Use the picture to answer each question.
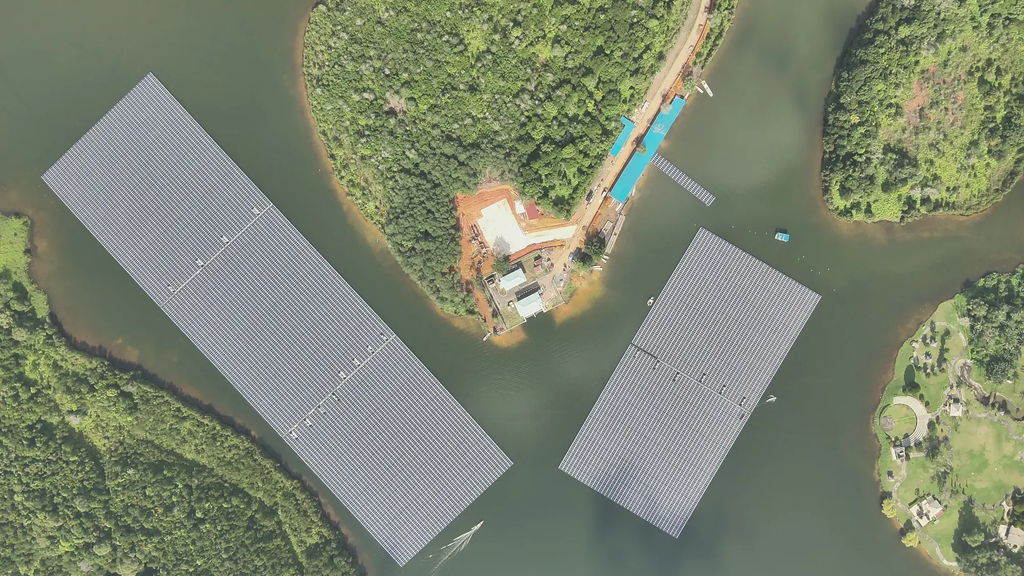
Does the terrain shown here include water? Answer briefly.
Yes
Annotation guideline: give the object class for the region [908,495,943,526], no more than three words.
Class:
building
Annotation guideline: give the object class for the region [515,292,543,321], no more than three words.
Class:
building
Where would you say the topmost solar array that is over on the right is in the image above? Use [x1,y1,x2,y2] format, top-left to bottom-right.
[651,152,716,206]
